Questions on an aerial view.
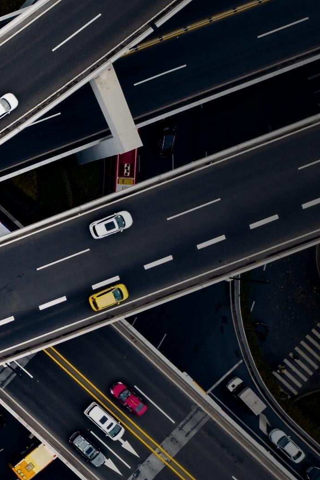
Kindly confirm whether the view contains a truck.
Yes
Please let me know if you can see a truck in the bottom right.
Yes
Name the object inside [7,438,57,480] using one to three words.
vehicle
